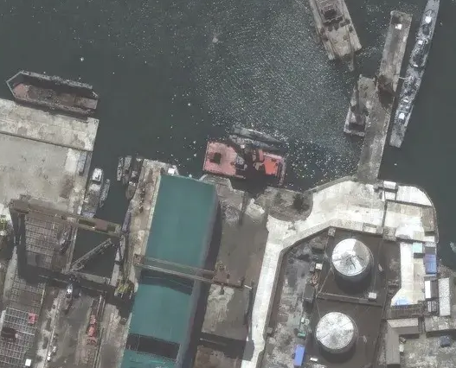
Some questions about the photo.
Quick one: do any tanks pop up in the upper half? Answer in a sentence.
No, in the upper half there is no tank.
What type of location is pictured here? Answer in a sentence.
This image shows a port.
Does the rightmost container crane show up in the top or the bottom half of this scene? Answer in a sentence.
You can find the rightmost container crane in the bottom half.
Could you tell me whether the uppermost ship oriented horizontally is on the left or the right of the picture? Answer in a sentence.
The uppermost ship oriented horizontally sits on the left side.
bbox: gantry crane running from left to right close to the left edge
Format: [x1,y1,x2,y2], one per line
[7,196,131,268]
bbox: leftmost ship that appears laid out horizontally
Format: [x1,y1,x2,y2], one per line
[6,70,101,118]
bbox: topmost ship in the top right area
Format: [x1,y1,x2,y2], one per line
[309,0,362,71]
